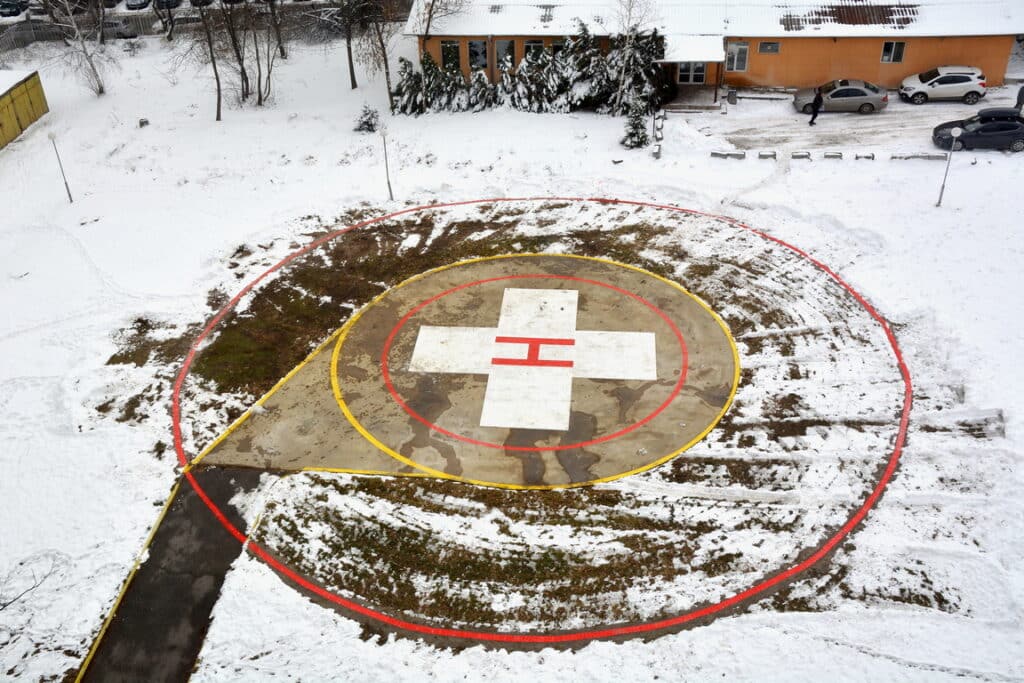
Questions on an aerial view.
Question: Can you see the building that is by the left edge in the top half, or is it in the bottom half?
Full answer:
You can find the building that is by the left edge in the top half.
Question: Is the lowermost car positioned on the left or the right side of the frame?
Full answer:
The lowermost car appears in the right half of the scene.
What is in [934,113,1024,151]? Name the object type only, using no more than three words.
car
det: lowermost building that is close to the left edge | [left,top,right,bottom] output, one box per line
[0,67,49,153]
